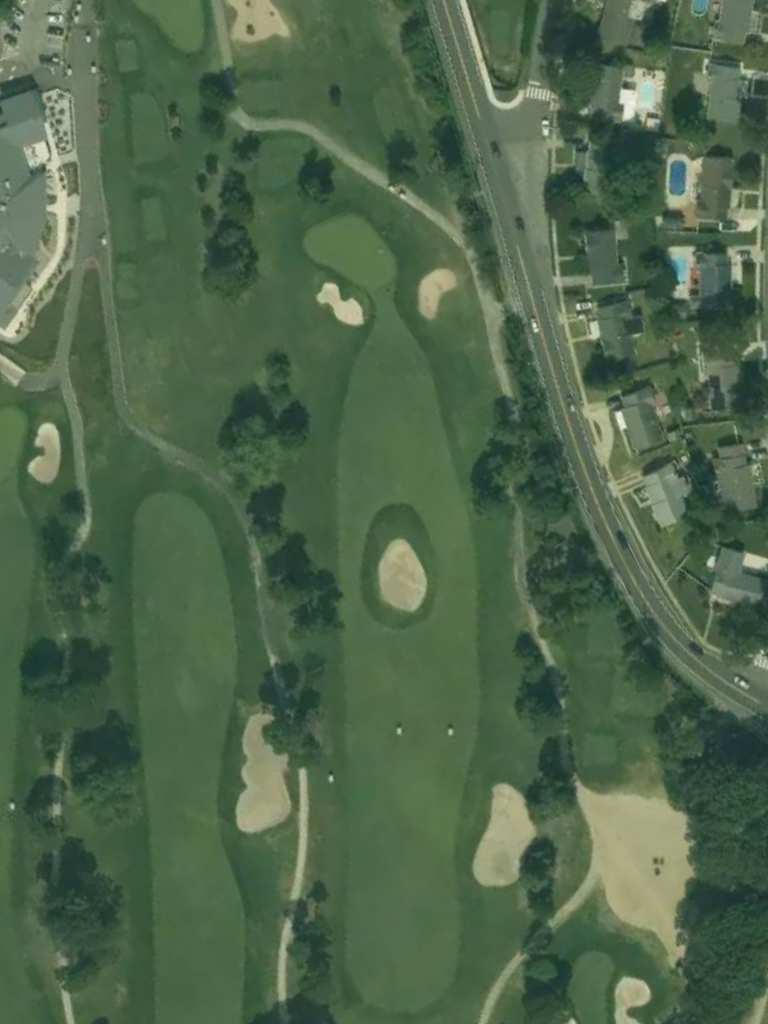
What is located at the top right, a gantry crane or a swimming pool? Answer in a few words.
swimming pool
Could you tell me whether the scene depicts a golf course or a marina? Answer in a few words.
golf course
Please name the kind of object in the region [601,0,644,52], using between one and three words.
house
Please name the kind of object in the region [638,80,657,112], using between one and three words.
swimming pool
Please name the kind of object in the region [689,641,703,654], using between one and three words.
vehicle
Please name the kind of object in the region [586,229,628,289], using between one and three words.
house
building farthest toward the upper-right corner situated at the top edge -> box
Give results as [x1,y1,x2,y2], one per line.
[710,0,754,43]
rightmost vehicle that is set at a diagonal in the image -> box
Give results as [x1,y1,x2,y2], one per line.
[733,676,749,689]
